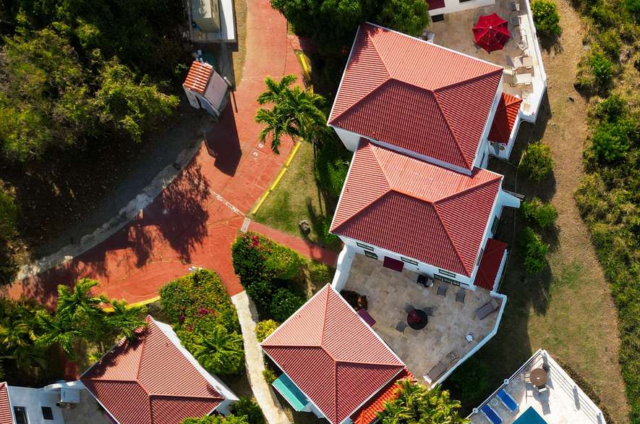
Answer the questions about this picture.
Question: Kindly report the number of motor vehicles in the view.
zero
